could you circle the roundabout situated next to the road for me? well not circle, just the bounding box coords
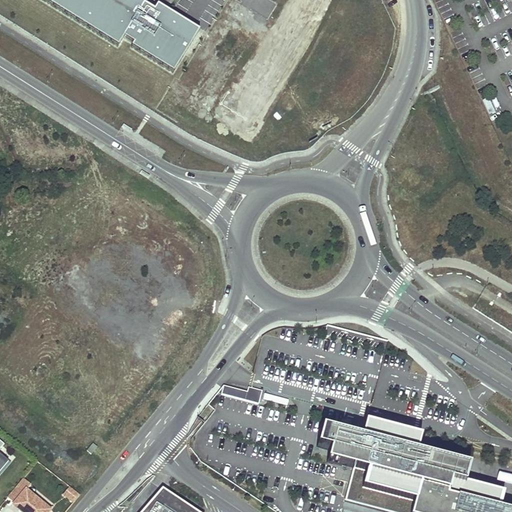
[228,170,378,319]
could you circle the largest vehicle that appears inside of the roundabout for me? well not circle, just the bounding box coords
[360,205,376,246]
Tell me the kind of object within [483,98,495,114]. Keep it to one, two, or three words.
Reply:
vehicle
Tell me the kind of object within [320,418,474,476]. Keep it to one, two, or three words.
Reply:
building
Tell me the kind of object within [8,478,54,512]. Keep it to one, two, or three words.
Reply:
house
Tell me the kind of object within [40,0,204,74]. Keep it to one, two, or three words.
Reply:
building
